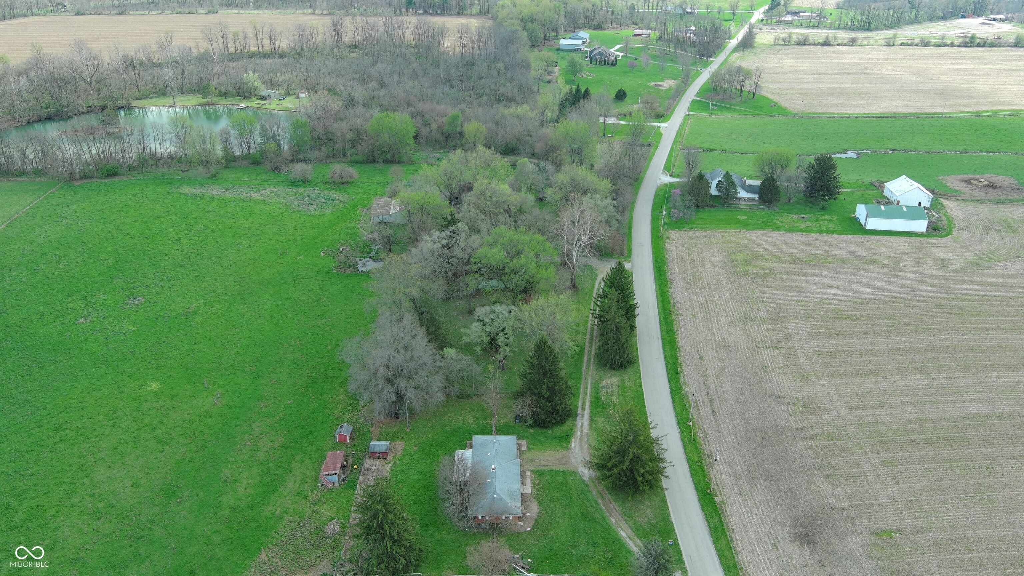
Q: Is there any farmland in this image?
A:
Yes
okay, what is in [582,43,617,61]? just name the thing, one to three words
house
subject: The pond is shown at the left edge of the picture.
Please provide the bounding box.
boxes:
[0,105,308,164]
